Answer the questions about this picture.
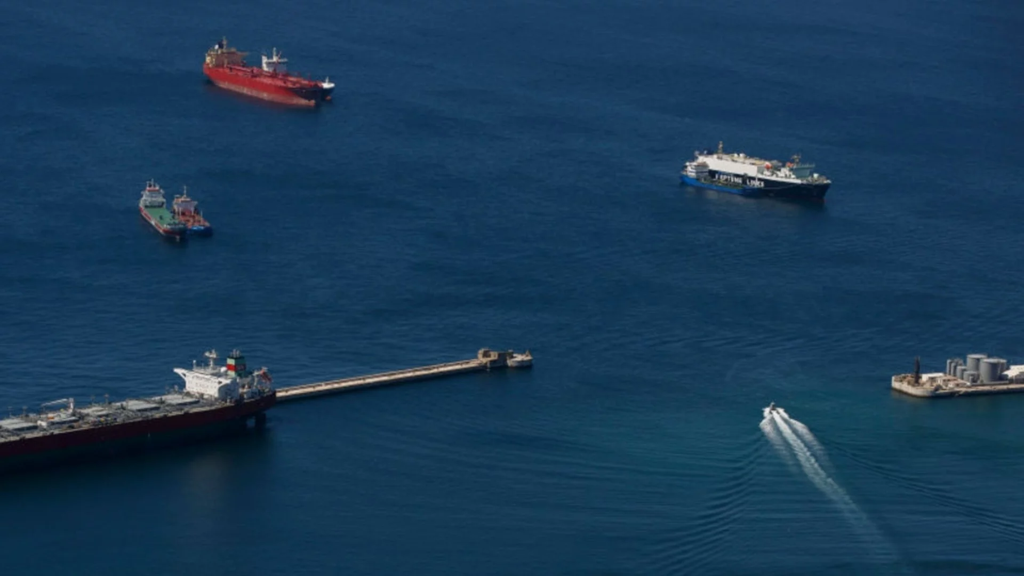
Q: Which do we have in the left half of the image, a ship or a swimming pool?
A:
ship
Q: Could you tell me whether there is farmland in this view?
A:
No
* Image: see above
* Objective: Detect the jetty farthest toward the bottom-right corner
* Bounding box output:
[892,362,1024,397]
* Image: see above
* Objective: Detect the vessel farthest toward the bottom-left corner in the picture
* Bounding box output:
[0,349,280,473]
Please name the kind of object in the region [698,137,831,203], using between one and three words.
ship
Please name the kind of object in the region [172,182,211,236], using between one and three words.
ship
